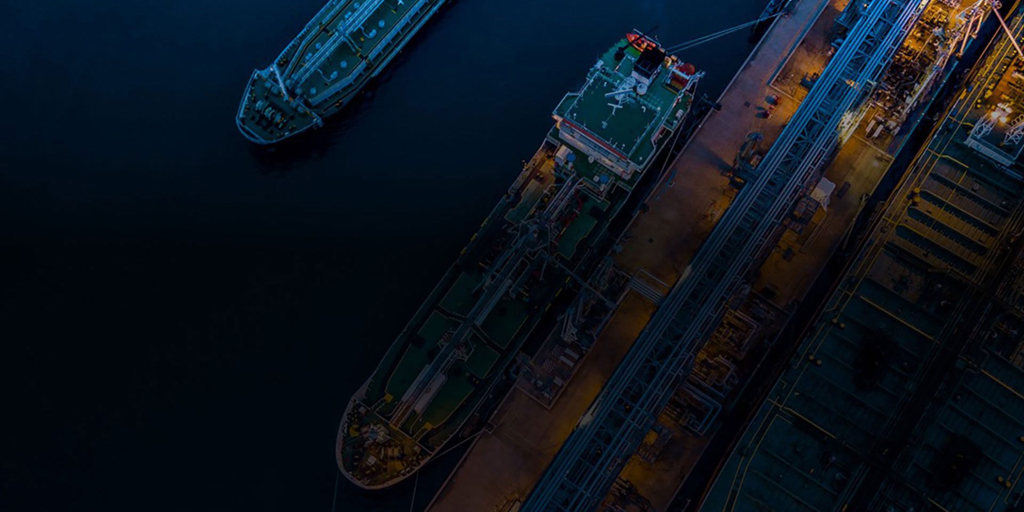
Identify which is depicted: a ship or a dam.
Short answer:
ship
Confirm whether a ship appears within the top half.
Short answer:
Yes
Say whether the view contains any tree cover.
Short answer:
No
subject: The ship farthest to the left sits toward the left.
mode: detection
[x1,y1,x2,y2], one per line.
[237,0,477,148]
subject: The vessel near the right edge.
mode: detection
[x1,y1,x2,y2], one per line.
[685,0,1024,512]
